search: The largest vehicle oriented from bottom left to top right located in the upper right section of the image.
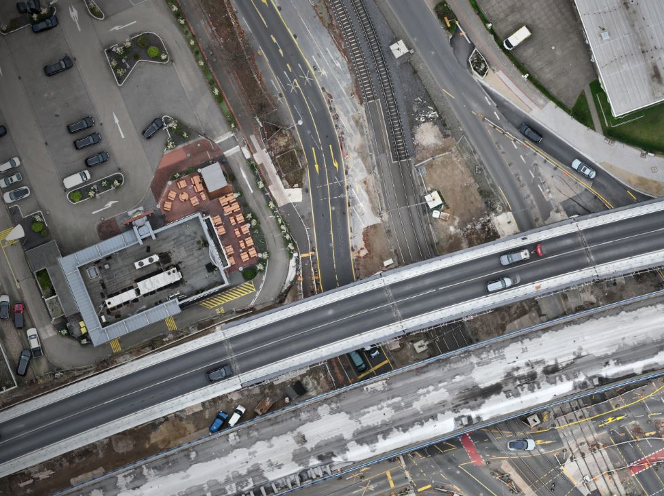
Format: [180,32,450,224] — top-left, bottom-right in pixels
[502,25,531,49]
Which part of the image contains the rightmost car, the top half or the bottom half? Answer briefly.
top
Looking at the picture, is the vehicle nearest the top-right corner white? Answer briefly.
Yes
